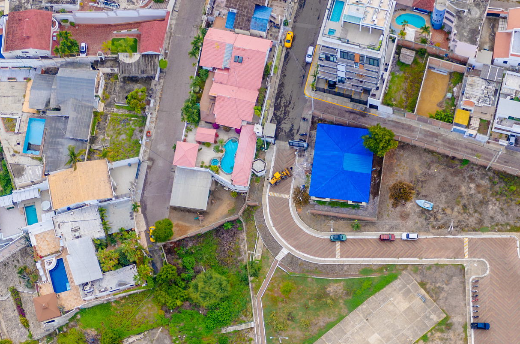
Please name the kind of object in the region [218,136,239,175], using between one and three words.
swimming pool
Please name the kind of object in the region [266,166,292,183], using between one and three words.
work vehicle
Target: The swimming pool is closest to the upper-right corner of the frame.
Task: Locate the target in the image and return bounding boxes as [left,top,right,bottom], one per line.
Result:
[394,12,427,29]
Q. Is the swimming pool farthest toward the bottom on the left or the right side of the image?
left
